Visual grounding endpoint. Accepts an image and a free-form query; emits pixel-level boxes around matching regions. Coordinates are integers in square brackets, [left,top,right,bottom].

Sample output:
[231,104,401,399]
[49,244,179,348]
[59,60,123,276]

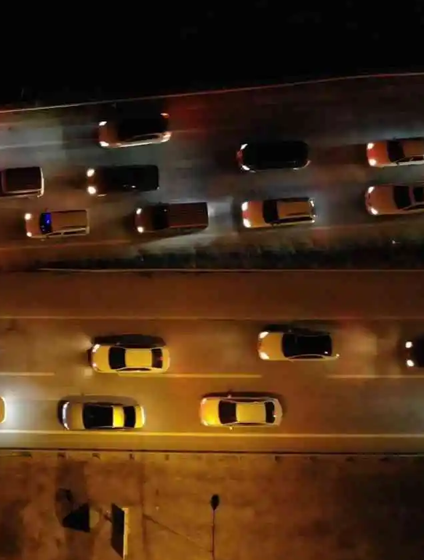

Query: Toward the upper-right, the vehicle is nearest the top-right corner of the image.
[365,132,424,170]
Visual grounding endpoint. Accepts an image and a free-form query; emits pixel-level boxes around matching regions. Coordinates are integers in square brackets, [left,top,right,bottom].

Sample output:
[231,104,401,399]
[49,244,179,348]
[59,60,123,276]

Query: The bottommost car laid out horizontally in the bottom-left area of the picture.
[59,396,147,435]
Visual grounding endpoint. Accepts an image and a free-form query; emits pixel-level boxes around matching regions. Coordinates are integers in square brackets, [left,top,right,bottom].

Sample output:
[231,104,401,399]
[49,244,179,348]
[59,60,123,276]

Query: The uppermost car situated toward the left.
[98,112,175,151]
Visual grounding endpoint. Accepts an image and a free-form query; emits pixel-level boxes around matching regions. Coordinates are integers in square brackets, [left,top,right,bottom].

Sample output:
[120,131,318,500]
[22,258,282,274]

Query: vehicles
[365,132,424,170]
[91,338,174,377]
[0,161,47,199]
[240,193,317,229]
[59,396,147,435]
[361,178,424,217]
[199,391,286,431]
[235,136,310,173]
[86,158,158,197]
[401,335,424,367]
[256,325,344,363]
[134,198,207,234]
[98,112,175,151]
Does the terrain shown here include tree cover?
No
